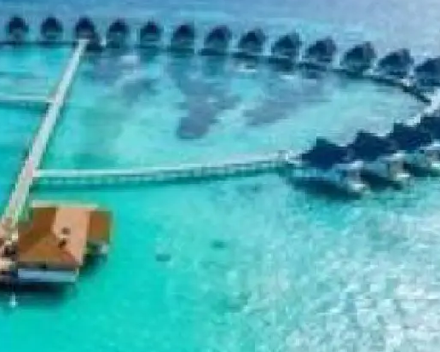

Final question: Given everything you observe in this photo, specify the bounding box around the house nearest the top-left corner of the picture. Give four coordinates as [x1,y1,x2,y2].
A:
[1,17,32,43]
